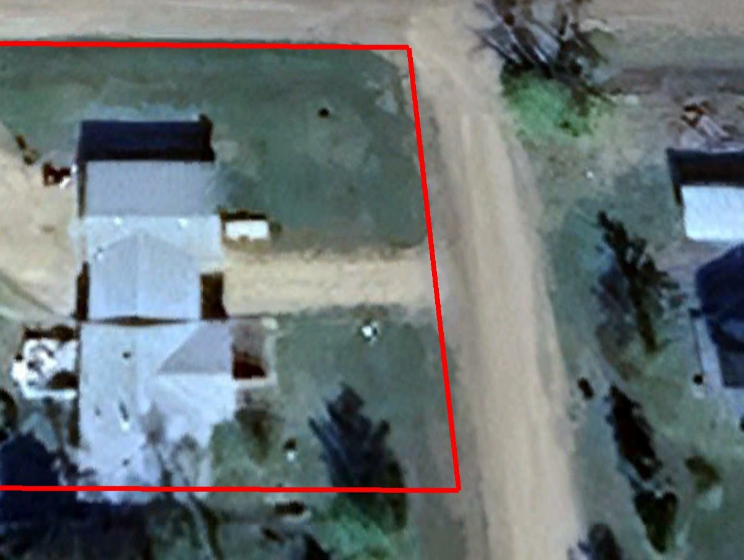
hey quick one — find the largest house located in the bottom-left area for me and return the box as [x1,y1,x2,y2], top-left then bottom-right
[79,315,237,509]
